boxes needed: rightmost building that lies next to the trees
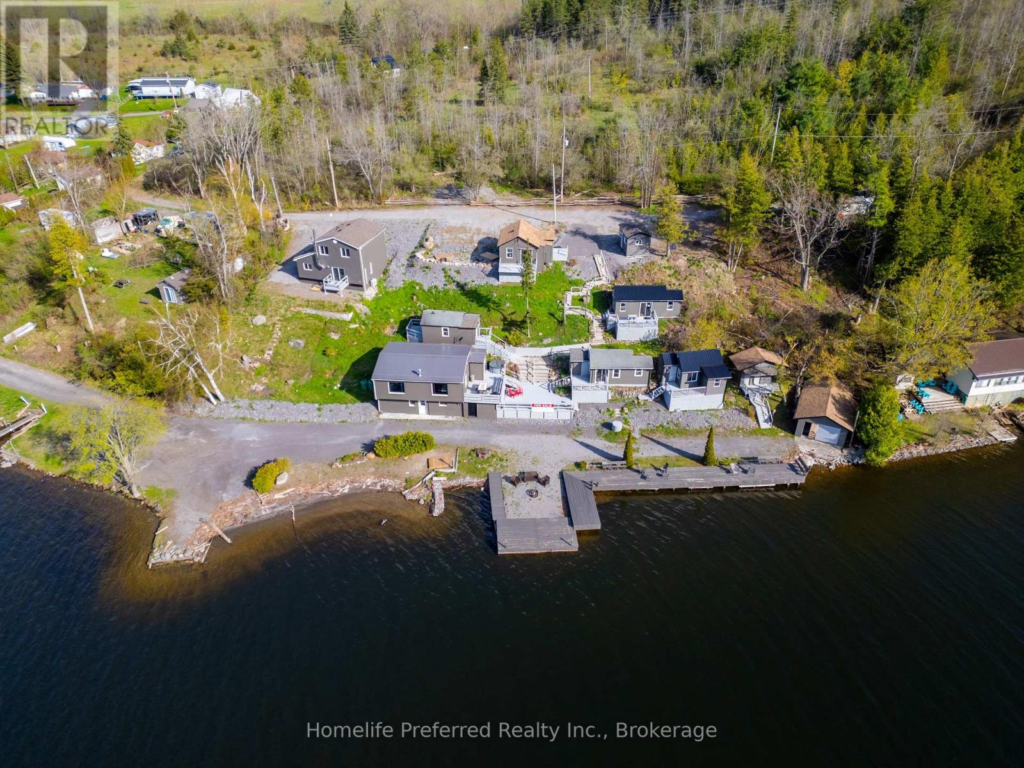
[934,341,1024,413]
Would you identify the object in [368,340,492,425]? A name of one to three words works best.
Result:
house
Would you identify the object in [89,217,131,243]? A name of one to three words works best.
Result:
shed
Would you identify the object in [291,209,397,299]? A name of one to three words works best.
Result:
house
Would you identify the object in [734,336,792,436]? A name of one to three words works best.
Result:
building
